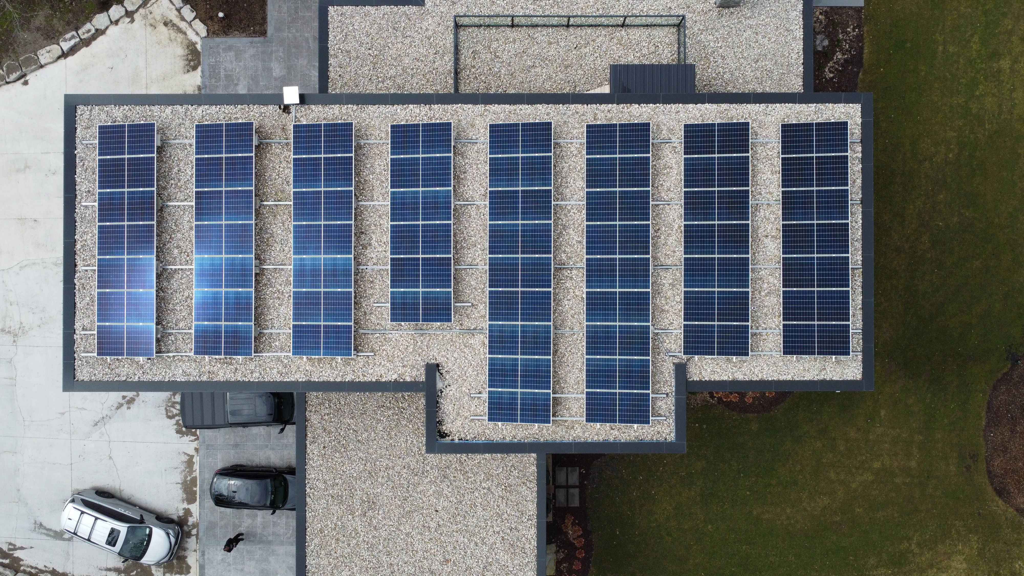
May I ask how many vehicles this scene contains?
3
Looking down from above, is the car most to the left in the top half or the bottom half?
bottom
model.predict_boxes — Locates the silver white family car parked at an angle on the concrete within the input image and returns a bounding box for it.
[60,488,184,567]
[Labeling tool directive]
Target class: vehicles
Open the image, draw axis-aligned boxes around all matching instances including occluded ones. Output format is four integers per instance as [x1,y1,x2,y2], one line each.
[209,463,296,520]
[178,392,296,435]
[60,488,184,567]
